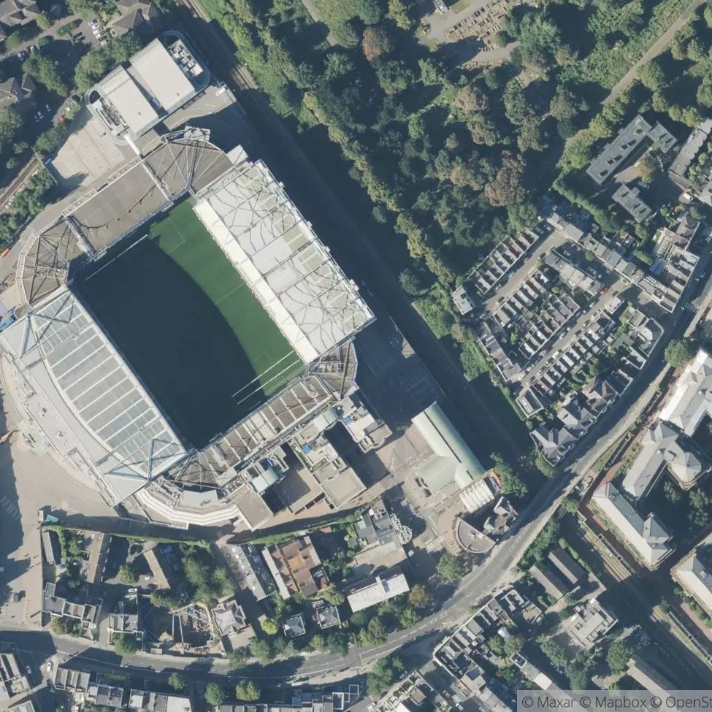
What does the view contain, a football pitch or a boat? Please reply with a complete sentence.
It is a football pitch that can be seen here.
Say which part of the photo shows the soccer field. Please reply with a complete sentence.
The soccer field appears toward the left of the photo.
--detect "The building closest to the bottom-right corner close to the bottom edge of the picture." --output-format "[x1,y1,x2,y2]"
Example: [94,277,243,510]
[625,653,706,712]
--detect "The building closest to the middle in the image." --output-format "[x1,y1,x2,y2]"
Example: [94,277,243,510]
[340,398,394,453]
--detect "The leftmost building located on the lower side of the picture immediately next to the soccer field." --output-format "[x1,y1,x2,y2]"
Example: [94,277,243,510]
[131,479,240,531]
